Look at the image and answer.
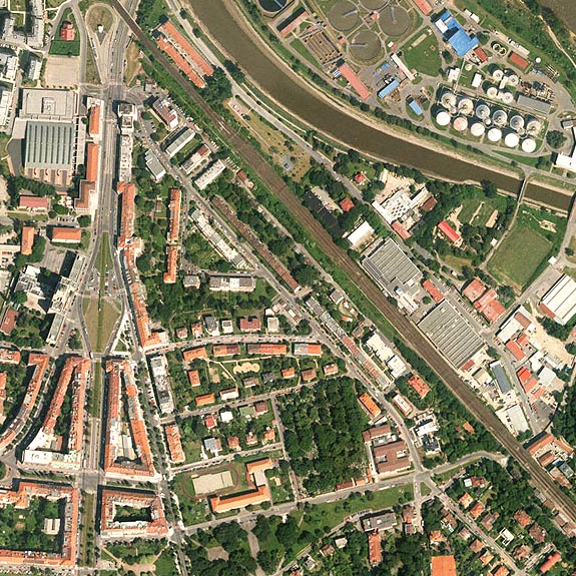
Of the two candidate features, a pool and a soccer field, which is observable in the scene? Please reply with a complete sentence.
The one in the frame is a soccer field.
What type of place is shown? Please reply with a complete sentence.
This looks like a residential area.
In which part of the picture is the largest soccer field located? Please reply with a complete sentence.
The largest soccer field sits in the right section of the image.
